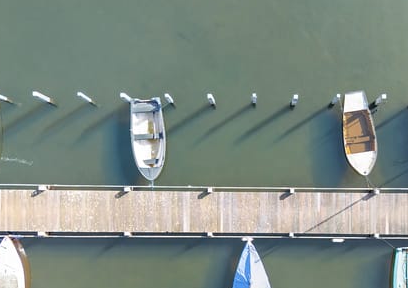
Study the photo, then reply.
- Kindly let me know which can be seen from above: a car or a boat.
boat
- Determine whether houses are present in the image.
No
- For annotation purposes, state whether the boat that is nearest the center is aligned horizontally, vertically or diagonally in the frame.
vertically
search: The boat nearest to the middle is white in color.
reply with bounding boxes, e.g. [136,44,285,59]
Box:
[129,98,167,181]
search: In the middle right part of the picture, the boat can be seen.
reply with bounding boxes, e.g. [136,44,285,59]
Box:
[343,91,379,177]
